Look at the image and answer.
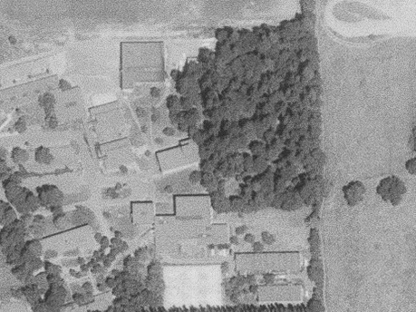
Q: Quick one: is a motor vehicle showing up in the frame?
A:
No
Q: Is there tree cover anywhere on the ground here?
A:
Yes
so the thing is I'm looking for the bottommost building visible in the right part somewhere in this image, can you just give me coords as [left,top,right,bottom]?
[258,285,303,302]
